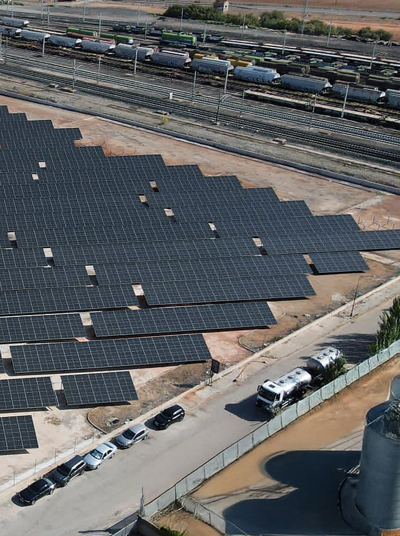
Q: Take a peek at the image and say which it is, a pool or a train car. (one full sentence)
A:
I can see a train car in this picture.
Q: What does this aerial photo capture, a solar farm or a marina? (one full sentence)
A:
This looks like a solar farm.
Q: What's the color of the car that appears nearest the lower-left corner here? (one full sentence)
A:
The car that appears nearest the lower-left corner is black.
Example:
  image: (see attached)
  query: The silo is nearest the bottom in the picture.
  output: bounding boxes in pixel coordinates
[328,394,400,536]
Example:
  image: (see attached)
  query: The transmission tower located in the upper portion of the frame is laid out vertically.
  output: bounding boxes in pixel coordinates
[297,0,310,34]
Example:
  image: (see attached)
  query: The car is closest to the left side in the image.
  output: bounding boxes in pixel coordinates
[18,481,57,508]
